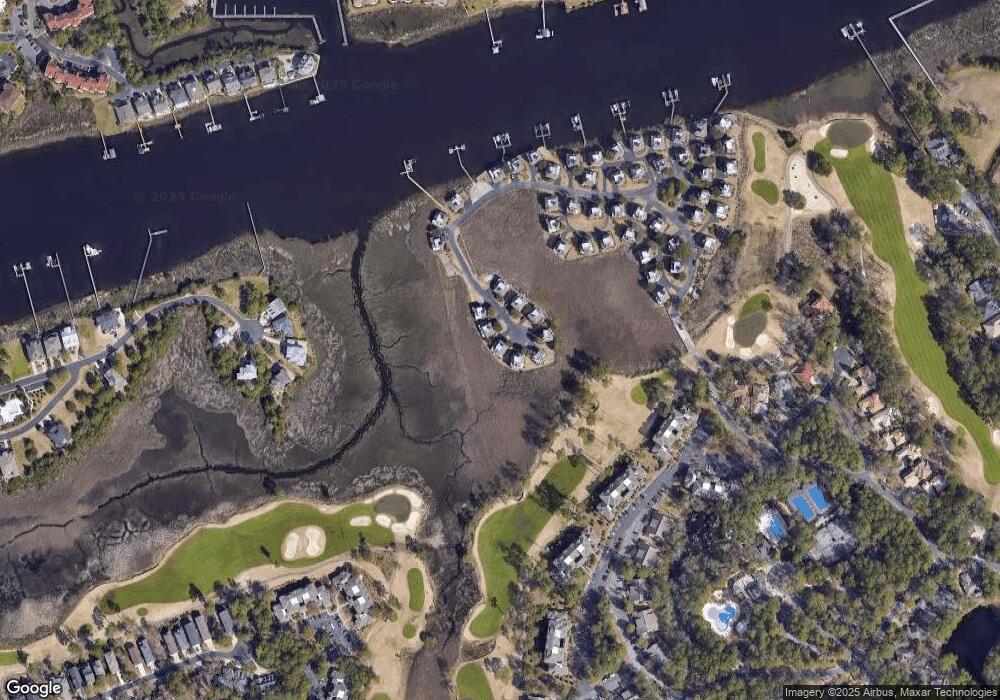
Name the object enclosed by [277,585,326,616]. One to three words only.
building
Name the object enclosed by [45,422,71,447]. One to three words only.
house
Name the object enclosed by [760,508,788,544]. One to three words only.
swimming pool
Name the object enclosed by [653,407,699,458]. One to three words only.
building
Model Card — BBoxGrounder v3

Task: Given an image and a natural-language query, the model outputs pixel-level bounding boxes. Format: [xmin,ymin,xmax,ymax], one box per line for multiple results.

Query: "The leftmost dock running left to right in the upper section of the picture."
[211,0,325,45]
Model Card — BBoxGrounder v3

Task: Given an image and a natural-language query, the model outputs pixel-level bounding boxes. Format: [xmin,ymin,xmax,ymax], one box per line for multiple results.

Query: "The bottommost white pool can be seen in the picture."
[703,601,739,635]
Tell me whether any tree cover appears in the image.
Yes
